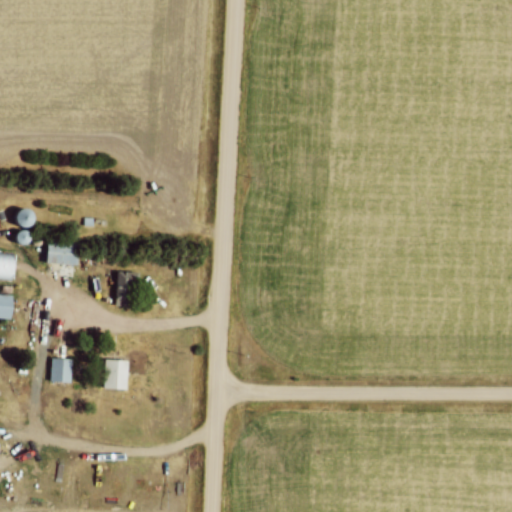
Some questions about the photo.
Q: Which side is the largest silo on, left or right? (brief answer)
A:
left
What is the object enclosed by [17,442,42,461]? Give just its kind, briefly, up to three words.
work vehicle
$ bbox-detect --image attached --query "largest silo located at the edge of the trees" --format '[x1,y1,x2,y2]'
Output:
[16,208,36,228]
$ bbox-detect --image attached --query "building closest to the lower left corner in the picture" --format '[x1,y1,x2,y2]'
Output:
[52,359,72,384]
